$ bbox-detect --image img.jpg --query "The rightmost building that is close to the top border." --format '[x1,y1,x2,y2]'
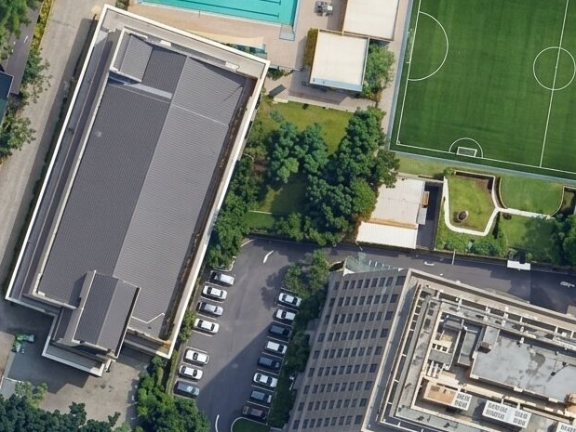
[341,0,399,42]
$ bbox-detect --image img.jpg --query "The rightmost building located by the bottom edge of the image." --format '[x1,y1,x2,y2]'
[295,269,576,432]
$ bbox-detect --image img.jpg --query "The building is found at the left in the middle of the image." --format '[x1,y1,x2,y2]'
[3,6,270,376]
